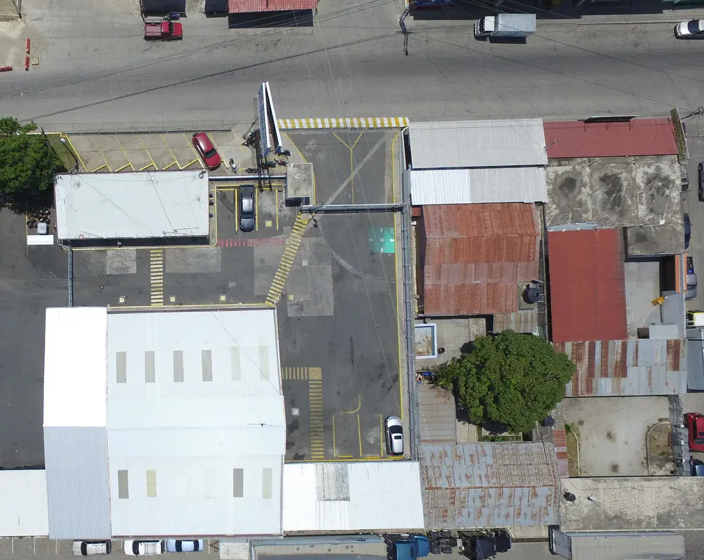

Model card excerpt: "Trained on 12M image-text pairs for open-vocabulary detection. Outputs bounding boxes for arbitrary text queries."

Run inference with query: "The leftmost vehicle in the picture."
[72,539,111,558]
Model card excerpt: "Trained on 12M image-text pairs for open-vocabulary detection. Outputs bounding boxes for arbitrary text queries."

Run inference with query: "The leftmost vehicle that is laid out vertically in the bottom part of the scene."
[385,416,404,454]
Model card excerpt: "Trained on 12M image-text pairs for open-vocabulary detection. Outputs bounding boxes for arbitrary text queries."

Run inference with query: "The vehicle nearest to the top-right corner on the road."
[673,21,704,40]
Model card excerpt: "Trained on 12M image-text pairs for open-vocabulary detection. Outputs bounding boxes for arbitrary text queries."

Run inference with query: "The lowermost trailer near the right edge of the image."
[552,526,673,559]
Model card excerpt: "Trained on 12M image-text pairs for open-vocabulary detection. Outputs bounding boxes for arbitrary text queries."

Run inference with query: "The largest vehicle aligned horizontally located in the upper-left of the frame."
[143,22,182,40]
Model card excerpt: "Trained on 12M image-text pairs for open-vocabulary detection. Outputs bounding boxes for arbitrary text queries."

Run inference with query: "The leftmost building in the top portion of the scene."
[56,170,210,241]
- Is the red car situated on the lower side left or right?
right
